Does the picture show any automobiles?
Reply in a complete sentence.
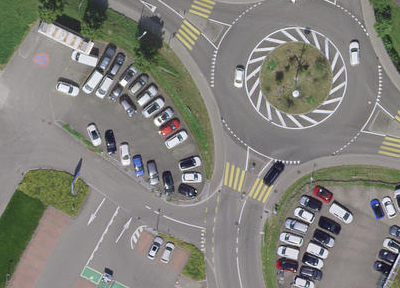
Yes, this view includes an automobile.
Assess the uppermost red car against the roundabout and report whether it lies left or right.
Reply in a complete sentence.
Looking at the picture, you'll find the uppermost red car to the left of the roundabout.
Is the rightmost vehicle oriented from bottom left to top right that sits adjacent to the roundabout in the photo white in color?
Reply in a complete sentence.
No, from above the rightmost vehicle oriented from bottom left to top right that sits adjacent to the roundabout looks black.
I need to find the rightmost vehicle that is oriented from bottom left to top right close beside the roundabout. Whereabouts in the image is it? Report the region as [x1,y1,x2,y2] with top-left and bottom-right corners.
[262,160,284,188]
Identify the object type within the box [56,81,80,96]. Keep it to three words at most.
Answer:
car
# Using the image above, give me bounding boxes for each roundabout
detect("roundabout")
[210,0,382,164]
